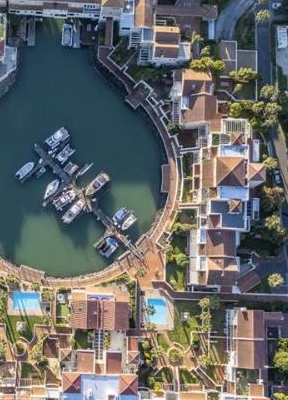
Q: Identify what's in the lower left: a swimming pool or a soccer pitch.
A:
swimming pool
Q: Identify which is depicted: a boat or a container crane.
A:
boat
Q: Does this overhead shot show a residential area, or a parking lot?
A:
residential area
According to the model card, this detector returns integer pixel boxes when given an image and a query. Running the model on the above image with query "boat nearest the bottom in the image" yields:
[104,237,121,256]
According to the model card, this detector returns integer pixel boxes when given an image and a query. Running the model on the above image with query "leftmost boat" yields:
[14,163,34,181]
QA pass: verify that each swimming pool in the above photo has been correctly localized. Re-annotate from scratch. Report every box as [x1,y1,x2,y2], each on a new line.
[146,297,169,325]
[12,290,42,311]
